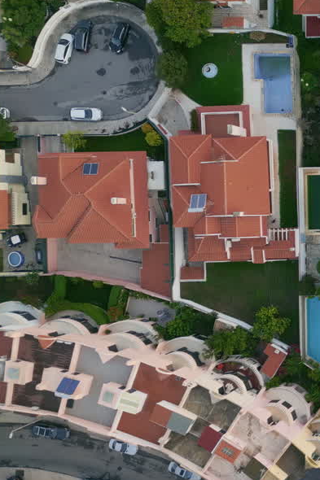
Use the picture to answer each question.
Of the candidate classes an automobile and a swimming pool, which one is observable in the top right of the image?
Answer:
swimming pool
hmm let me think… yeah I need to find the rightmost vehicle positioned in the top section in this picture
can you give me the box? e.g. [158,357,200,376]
[110,22,132,54]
